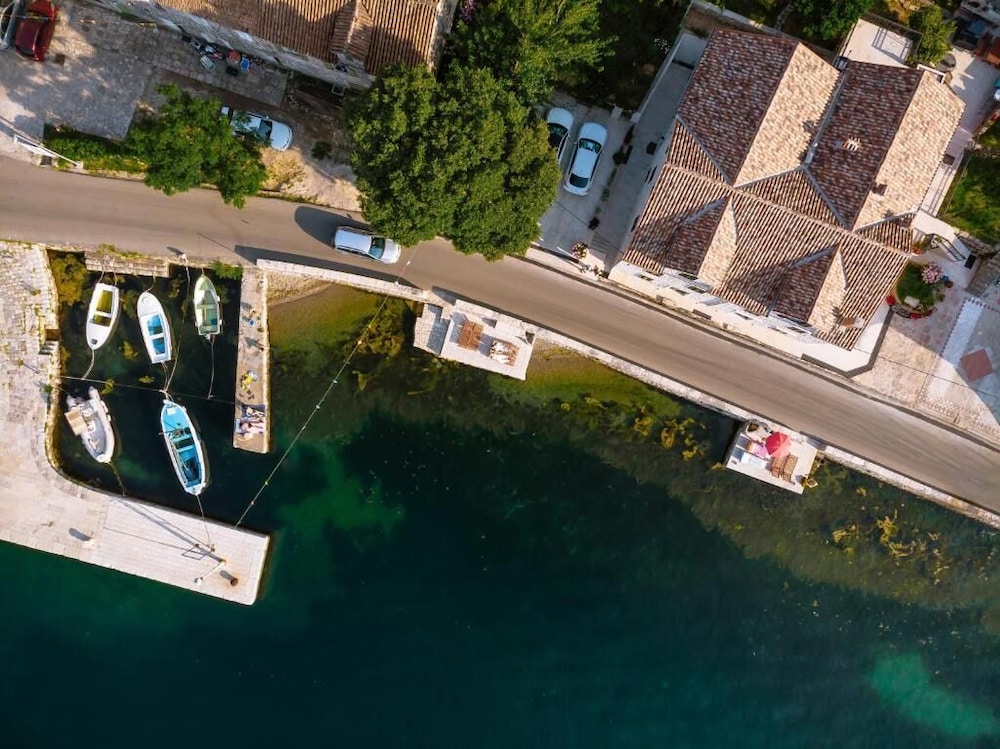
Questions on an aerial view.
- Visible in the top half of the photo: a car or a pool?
car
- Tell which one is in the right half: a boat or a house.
house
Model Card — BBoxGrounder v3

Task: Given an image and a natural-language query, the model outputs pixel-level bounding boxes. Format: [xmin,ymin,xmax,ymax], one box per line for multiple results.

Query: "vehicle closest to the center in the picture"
[329,223,401,264]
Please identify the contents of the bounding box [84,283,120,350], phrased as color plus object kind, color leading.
white boat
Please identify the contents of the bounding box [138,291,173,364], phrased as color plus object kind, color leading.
white boat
